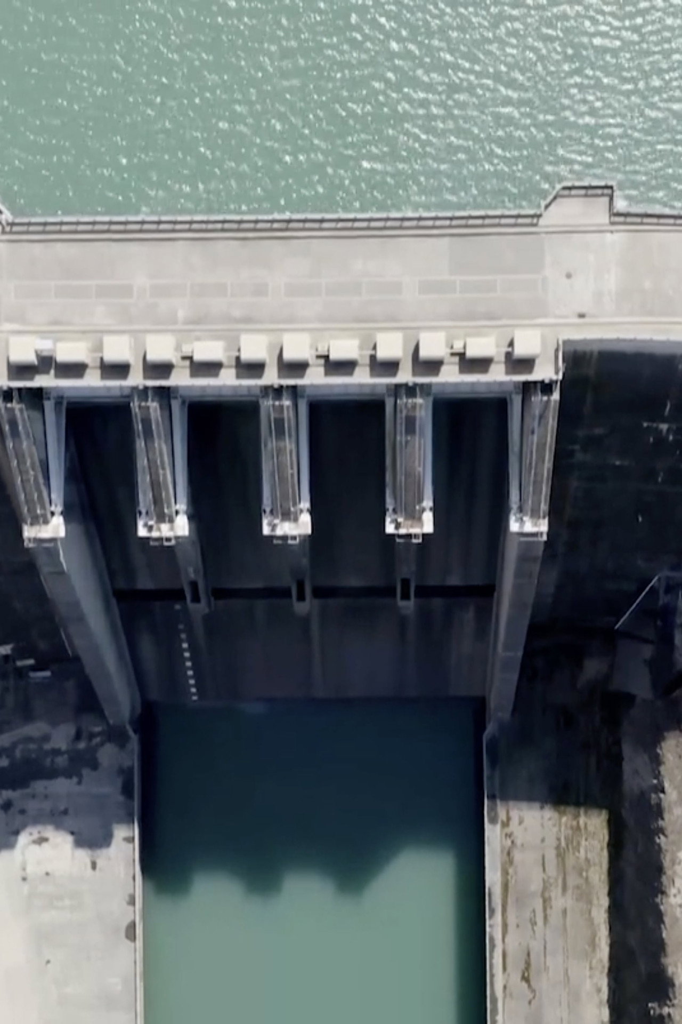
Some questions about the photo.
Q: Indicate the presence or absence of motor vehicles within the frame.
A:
No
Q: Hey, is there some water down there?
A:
Yes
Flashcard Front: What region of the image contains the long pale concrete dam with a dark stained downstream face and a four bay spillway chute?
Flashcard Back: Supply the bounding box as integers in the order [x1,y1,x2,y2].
[0,183,682,699]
